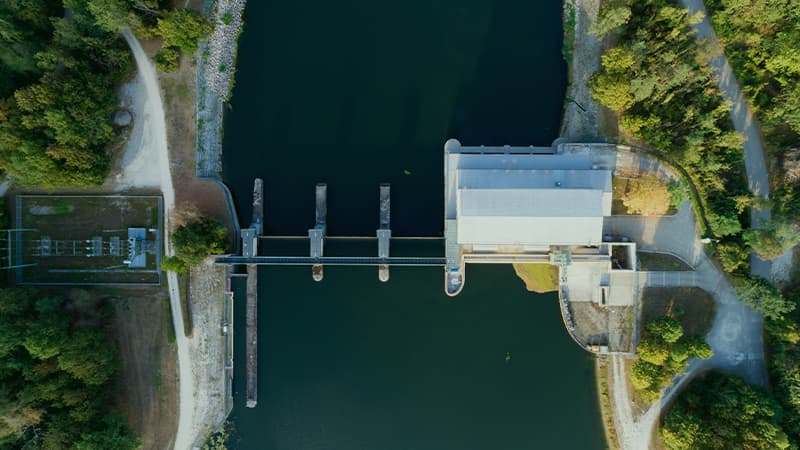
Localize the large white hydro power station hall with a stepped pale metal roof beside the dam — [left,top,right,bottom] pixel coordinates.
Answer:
[445,140,617,295]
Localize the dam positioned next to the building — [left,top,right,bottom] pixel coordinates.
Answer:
[241,179,445,283]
